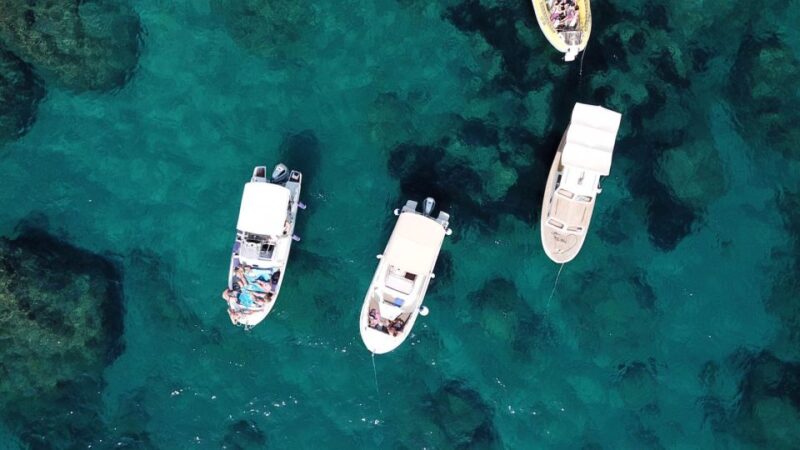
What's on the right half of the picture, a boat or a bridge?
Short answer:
boat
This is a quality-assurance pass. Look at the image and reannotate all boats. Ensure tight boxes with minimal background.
[229,162,302,334]
[543,103,620,263]
[533,0,592,61]
[362,198,448,358]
